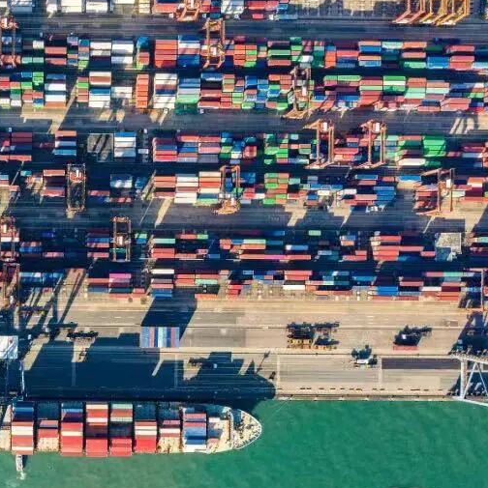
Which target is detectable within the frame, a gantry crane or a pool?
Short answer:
gantry crane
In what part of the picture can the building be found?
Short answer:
right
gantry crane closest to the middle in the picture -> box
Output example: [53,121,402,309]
[214,162,240,218]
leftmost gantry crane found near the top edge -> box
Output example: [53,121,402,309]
[0,14,20,77]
